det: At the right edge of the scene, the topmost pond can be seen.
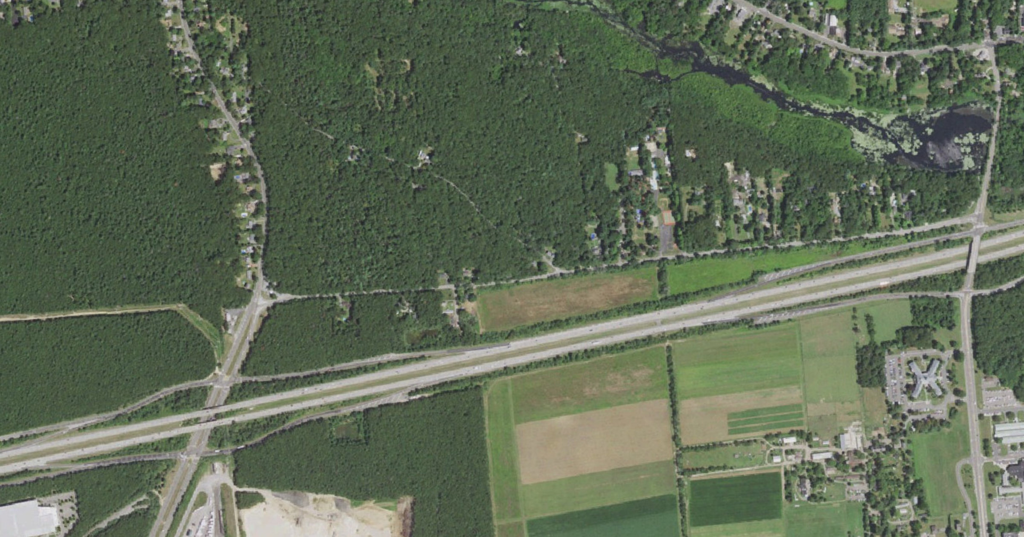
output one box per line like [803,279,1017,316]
[838,101,994,172]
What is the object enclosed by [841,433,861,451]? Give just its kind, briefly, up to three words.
barn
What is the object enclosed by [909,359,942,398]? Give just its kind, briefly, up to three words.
building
